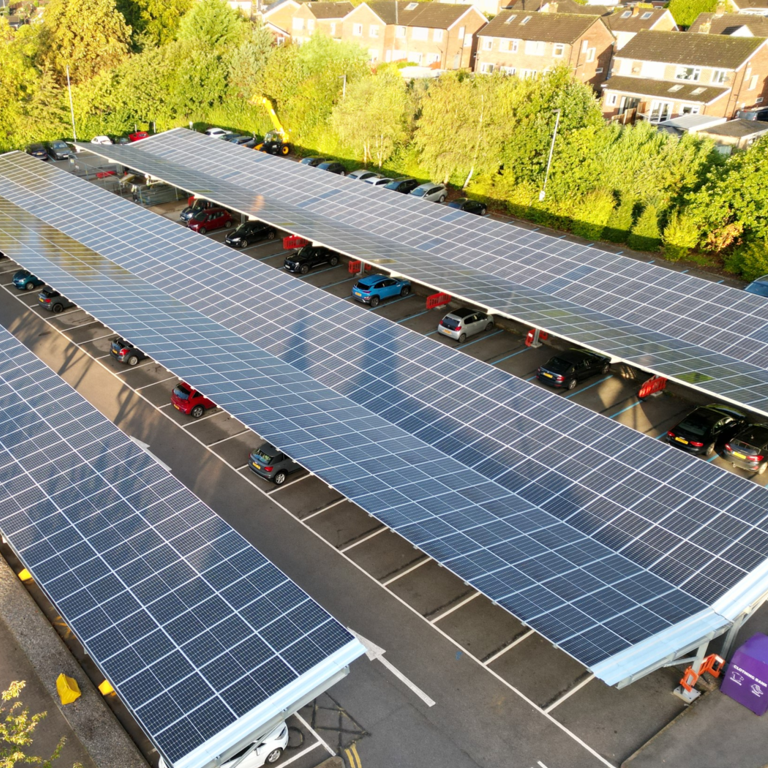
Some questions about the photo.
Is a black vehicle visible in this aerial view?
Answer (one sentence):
Yes, this view includes a black vehicle.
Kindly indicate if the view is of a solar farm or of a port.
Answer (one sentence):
What you see here is a solar farm.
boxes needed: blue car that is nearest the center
[351,275,410,307]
